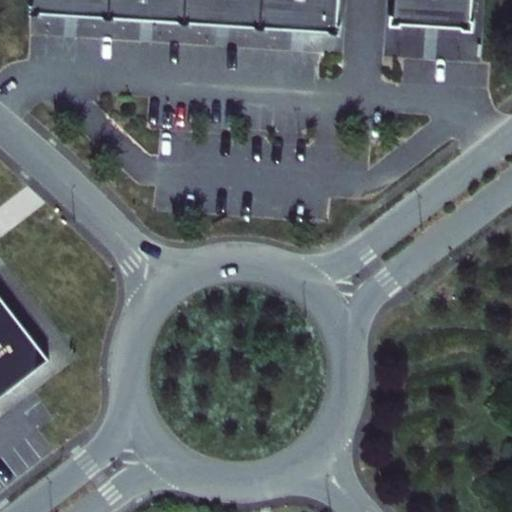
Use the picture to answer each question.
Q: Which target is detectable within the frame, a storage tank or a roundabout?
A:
roundabout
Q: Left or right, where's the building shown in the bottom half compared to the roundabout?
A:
to its left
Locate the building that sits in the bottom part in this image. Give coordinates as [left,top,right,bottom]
[0,296,48,396]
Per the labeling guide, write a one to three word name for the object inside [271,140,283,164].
vehicle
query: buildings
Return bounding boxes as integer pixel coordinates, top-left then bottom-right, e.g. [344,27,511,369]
[0,296,48,396]
[388,0,476,34]
[30,0,344,34]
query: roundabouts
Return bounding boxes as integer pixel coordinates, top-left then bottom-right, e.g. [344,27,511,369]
[113,245,365,497]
